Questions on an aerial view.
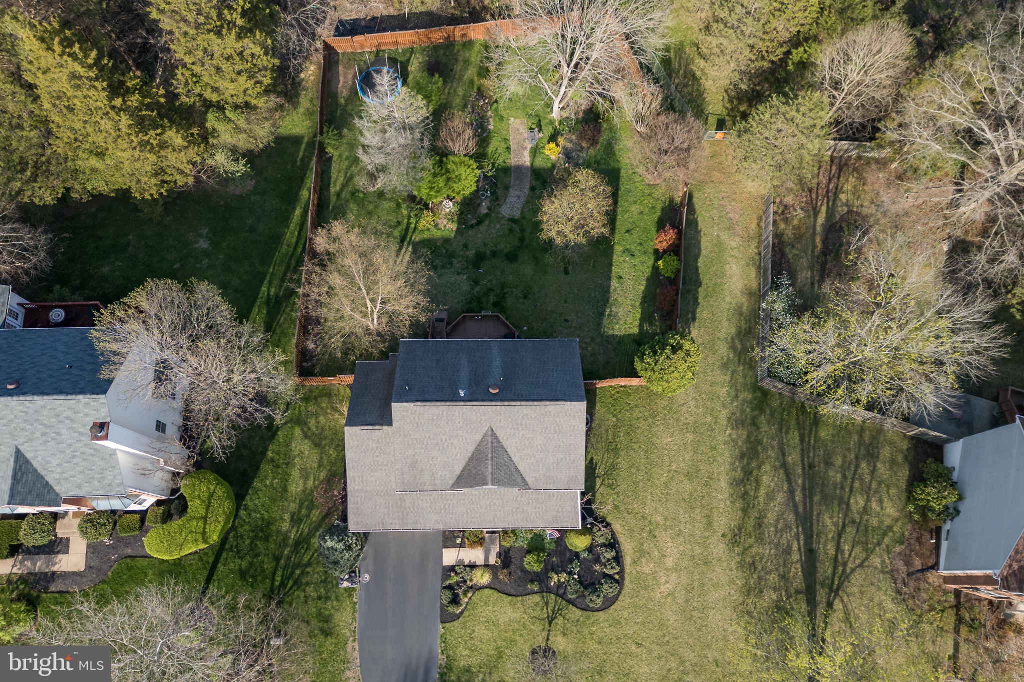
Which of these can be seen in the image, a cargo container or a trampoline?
trampoline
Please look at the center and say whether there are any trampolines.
No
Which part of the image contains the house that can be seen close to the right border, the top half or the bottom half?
bottom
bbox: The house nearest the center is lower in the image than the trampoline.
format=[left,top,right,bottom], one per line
[345,337,587,534]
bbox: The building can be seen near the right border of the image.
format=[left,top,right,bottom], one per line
[929,414,1024,589]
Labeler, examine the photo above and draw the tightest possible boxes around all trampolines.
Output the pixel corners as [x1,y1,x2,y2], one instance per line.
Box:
[358,57,400,102]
